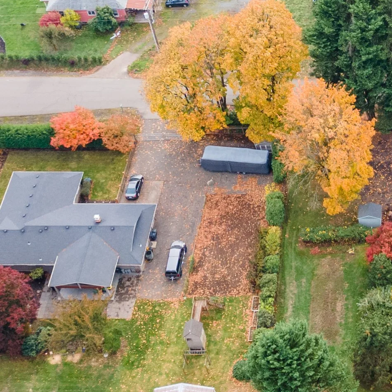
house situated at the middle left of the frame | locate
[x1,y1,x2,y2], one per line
[0,168,158,298]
